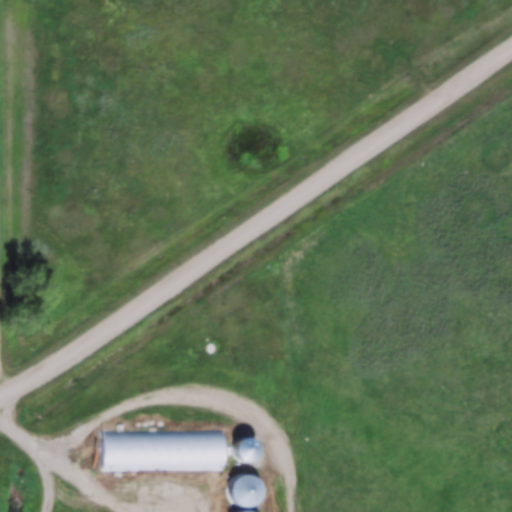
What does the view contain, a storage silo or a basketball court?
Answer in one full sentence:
Visible in the photo is a storage silo.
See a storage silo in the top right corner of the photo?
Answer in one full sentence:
No, there is no storage silo in the top right corner of the photo.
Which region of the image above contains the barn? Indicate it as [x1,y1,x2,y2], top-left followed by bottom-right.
[101,431,228,472]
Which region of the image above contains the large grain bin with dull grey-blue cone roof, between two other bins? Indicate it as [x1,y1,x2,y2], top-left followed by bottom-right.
[228,472,266,510]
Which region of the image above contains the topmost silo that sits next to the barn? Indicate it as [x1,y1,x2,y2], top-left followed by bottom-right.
[232,436,264,464]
